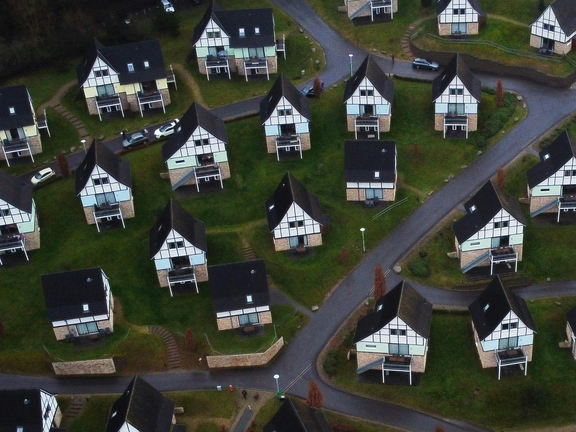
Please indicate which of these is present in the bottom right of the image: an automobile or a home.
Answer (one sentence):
The feature located in the bottom right of the image is a home.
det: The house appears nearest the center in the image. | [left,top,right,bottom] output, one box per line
[265,174,332,250]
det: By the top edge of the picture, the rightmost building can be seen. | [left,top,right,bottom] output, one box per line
[528,0,576,54]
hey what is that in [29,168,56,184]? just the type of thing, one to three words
car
